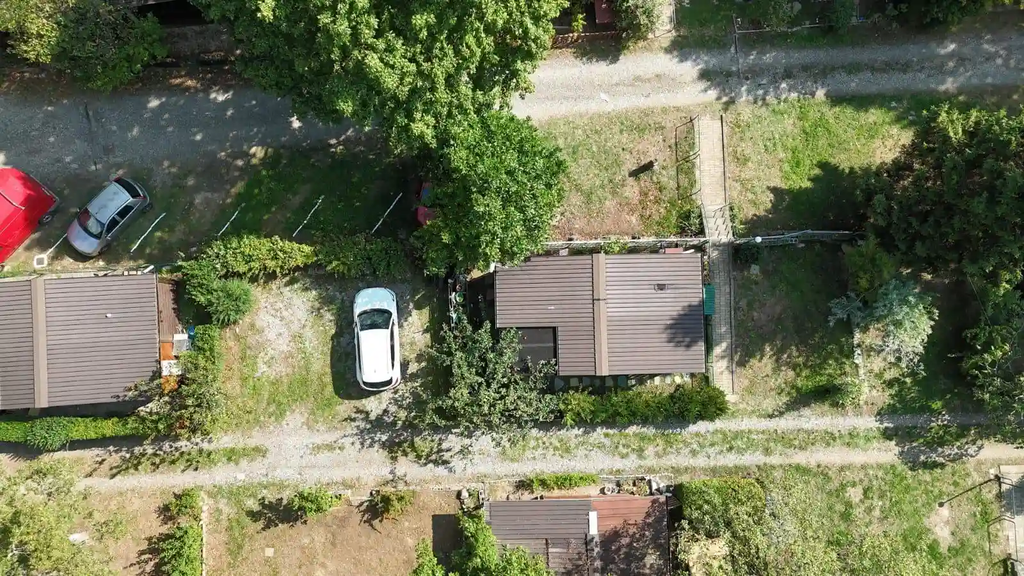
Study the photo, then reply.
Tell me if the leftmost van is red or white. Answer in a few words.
red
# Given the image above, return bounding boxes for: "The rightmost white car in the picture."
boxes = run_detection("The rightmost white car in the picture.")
[348,287,404,390]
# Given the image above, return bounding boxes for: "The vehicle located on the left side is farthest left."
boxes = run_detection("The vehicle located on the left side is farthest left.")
[0,168,57,270]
